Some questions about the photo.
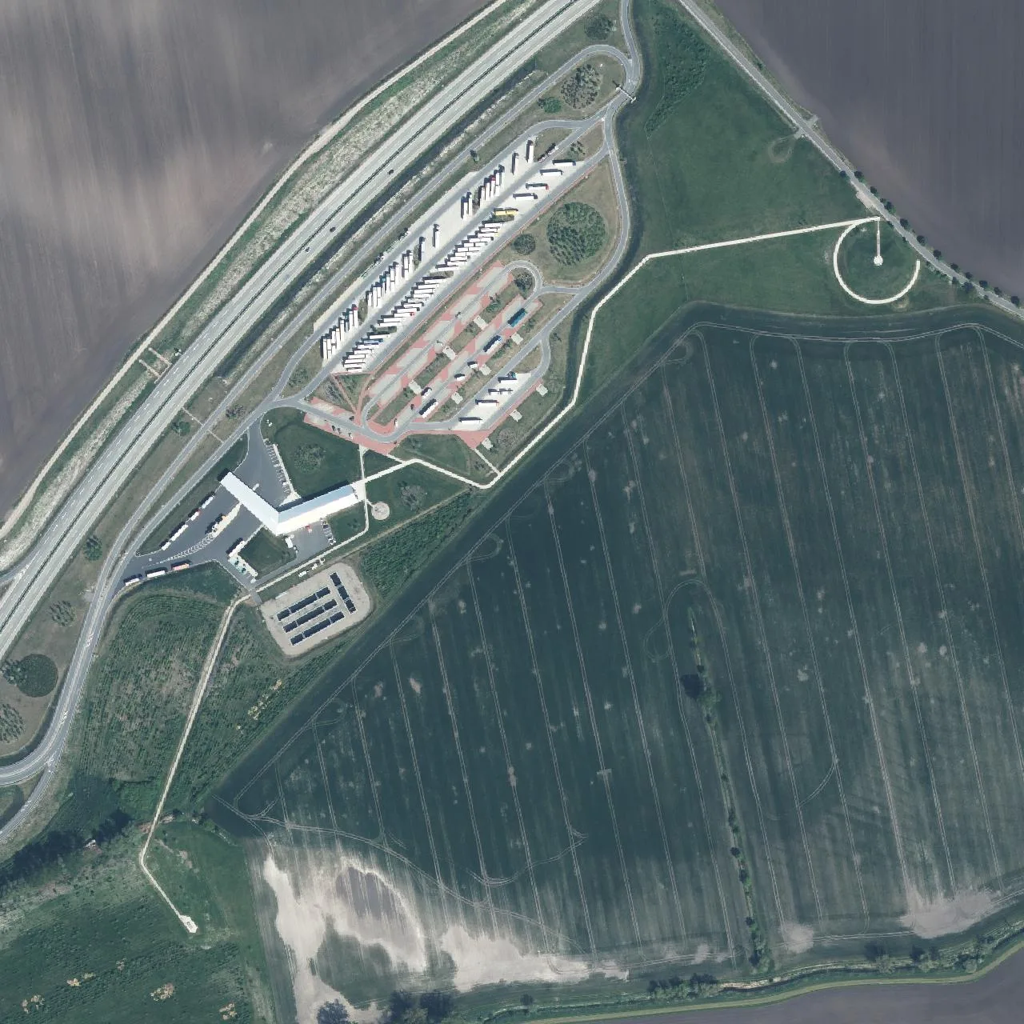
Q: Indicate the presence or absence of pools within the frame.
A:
No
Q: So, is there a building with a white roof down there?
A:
Yes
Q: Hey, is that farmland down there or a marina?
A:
farmland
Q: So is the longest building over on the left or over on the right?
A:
left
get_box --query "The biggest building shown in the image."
[220,472,358,536]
